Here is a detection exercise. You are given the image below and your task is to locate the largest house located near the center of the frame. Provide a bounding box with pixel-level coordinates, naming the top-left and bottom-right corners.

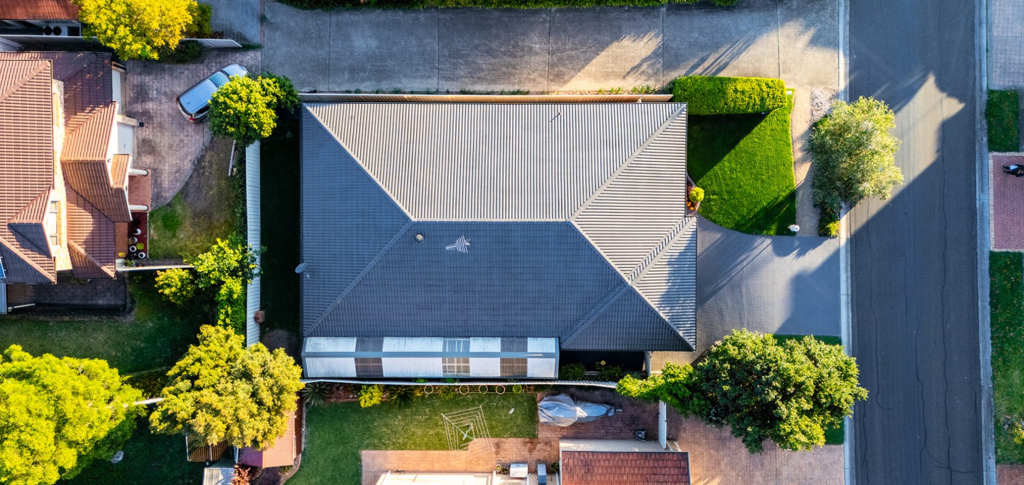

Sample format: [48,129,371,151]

[301,100,699,354]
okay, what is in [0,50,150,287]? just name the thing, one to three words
house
